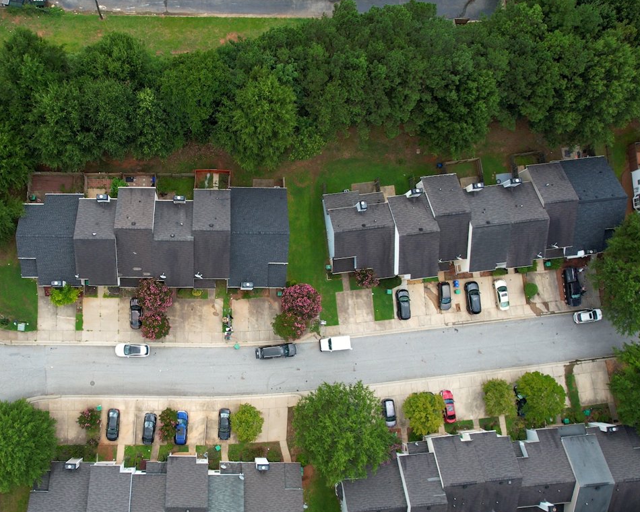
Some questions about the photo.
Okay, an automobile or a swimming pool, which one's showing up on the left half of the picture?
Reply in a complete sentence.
It is an automobile that can be seen on the left half of the picture.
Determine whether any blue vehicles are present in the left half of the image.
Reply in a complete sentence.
Yes, a blue vehicle is visible in the left half of the image.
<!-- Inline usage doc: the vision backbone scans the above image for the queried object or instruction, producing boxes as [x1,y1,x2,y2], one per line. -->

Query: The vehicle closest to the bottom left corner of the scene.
[105,407,121,442]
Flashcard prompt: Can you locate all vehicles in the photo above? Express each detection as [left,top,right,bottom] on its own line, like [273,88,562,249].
[105,407,121,442]
[115,342,151,359]
[380,397,398,427]
[569,308,603,325]
[142,411,159,446]
[491,278,511,312]
[255,342,297,360]
[128,298,143,330]
[439,389,457,424]
[317,335,354,352]
[394,288,412,321]
[217,407,233,441]
[435,280,454,311]
[174,410,191,446]
[561,266,584,307]
[417,387,432,400]
[463,280,482,315]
